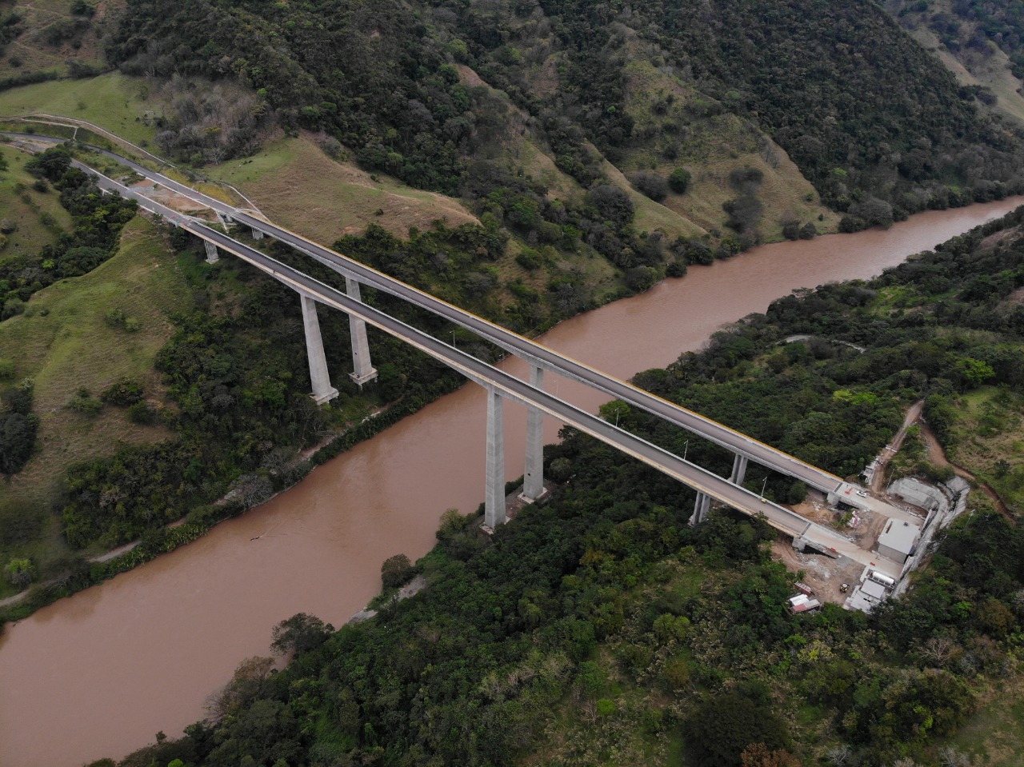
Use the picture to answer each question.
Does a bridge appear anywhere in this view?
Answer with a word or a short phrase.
Yes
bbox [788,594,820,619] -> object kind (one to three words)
shed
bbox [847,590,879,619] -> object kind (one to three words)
building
